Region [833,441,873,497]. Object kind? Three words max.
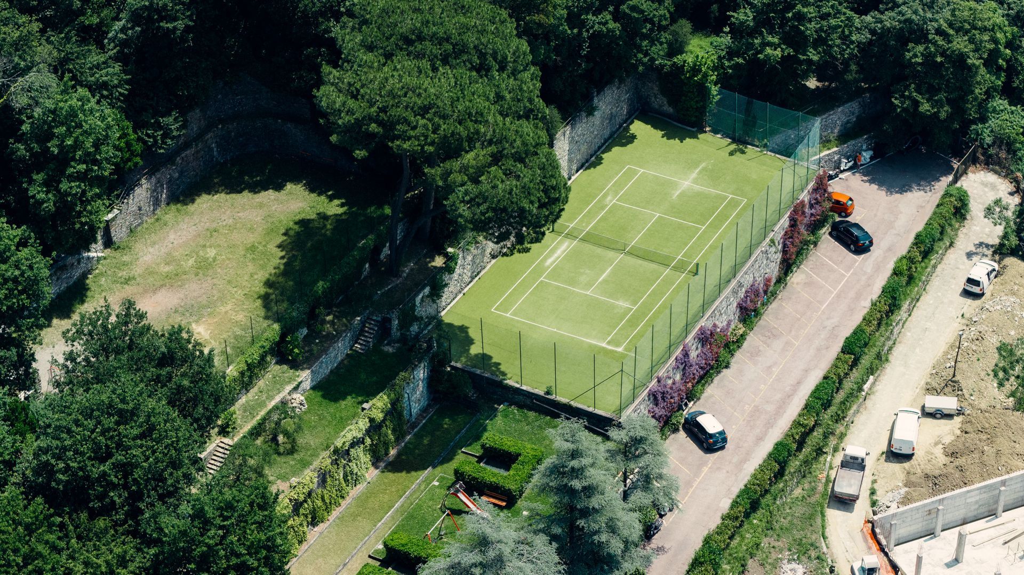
truck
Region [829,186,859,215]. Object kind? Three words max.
car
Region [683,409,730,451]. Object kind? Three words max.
car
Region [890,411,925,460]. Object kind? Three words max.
van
